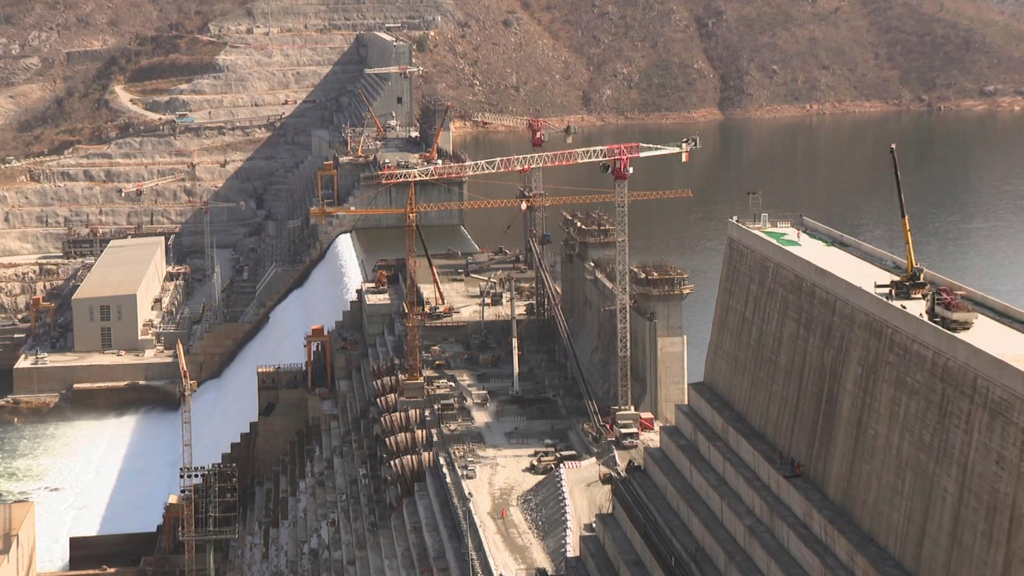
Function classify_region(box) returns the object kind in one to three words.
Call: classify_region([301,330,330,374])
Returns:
container crane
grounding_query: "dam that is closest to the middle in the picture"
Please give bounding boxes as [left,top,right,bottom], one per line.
[353,252,532,352]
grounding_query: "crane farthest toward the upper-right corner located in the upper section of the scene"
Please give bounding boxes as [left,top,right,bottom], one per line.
[878,141,942,302]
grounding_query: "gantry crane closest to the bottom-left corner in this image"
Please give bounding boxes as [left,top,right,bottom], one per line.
[151,507,188,576]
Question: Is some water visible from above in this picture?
Yes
